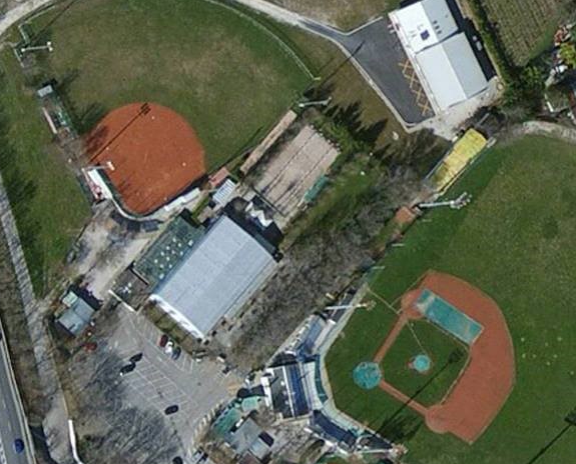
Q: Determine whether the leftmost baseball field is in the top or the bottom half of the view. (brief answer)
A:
top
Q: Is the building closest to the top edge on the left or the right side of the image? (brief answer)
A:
right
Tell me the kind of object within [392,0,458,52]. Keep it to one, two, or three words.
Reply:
building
